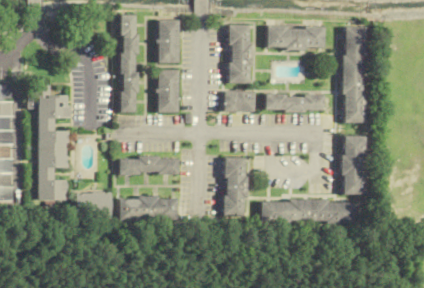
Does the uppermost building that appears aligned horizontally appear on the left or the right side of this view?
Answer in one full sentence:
The uppermost building that appears aligned horizontally sits on the right side.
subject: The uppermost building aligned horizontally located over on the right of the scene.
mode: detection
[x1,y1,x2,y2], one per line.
[268,25,326,52]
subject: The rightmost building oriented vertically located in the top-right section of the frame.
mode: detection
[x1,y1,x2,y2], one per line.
[344,26,366,124]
